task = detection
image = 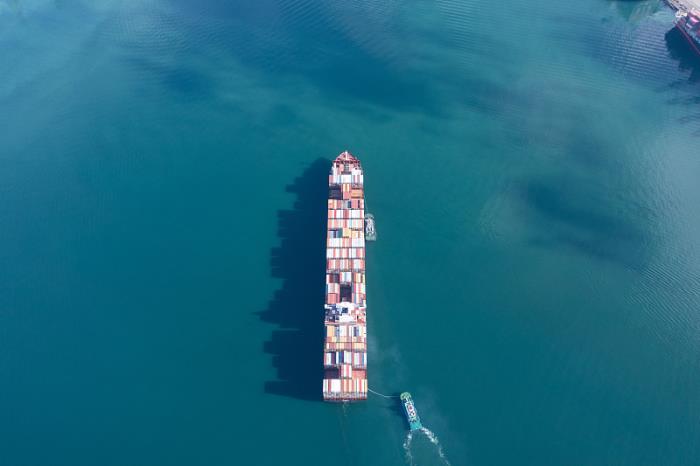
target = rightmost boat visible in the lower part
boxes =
[401,391,422,430]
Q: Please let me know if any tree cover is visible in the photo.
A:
No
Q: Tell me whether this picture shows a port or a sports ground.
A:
port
